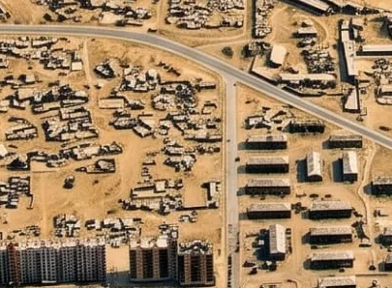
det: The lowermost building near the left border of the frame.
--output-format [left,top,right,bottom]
[0,236,112,288]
